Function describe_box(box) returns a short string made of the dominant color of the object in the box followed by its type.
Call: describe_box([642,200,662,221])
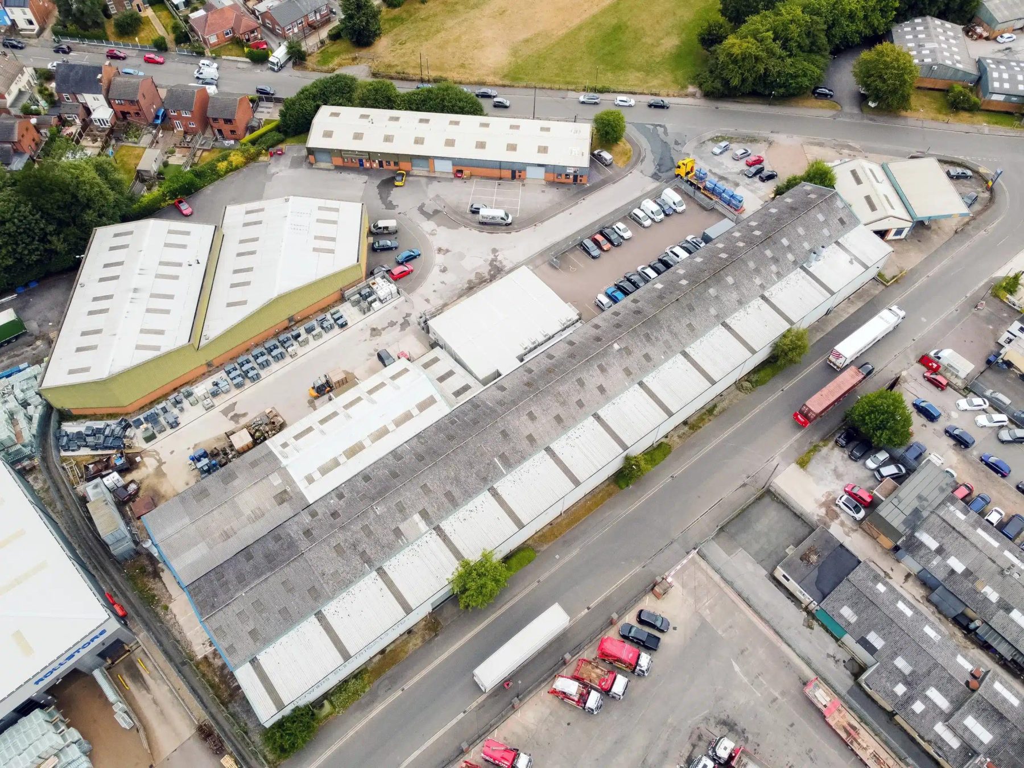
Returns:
white vehicle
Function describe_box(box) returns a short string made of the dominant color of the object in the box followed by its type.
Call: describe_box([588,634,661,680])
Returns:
red truck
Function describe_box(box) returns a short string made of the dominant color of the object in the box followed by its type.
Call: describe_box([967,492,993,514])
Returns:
blue car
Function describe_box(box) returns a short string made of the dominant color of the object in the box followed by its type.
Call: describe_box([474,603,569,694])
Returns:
white trailer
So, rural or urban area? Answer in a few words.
urban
